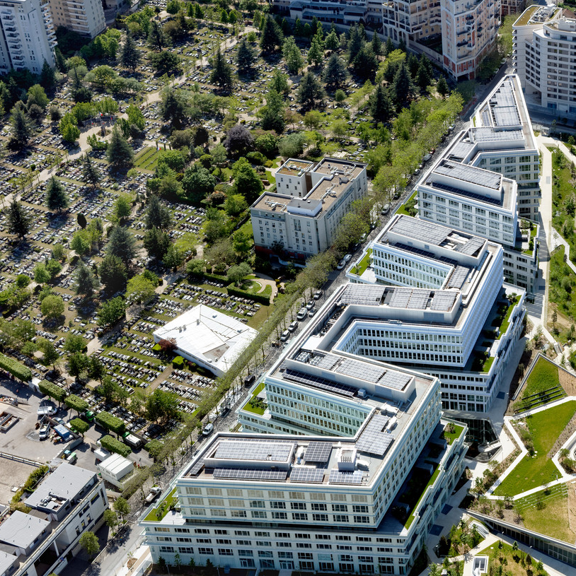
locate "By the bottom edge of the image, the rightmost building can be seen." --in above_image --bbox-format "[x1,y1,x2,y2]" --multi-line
[460,479,576,567]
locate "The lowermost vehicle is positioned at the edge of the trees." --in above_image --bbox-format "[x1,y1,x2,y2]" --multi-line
[144,484,161,503]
